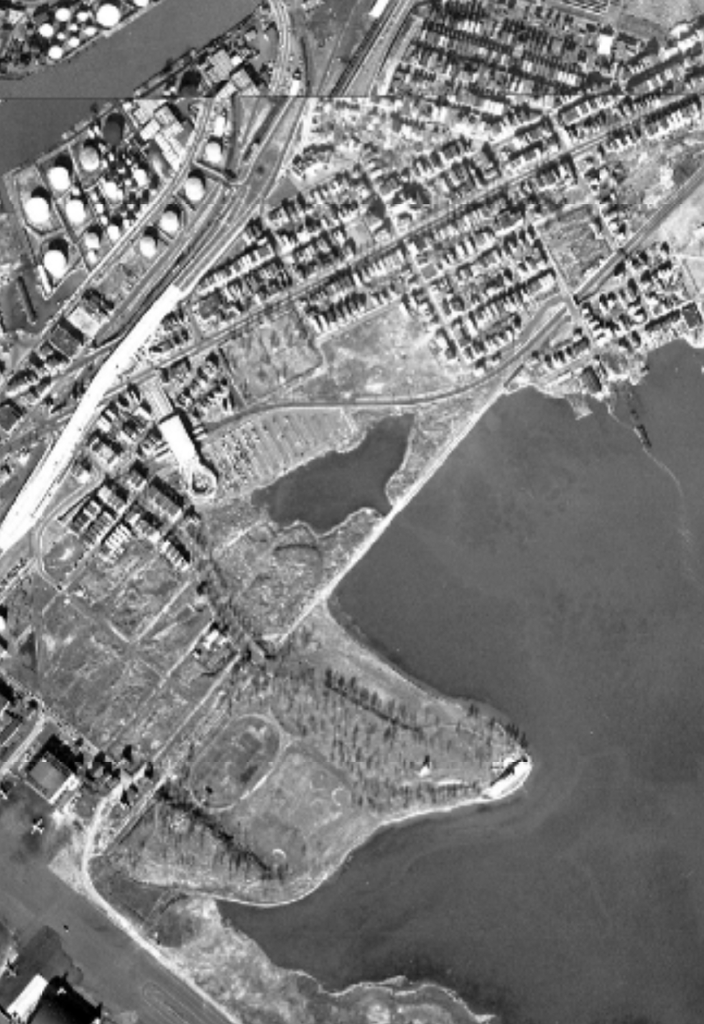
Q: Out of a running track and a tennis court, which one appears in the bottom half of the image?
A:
running track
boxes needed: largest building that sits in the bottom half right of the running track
[489,763,525,796]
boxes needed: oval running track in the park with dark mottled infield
[186,709,282,816]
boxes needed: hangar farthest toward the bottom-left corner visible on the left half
[5,976,49,1023]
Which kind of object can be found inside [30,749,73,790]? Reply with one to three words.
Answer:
hangar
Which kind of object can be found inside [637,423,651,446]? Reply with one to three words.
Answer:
ship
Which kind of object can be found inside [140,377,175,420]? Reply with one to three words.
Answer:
building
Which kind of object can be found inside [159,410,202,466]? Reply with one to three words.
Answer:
building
